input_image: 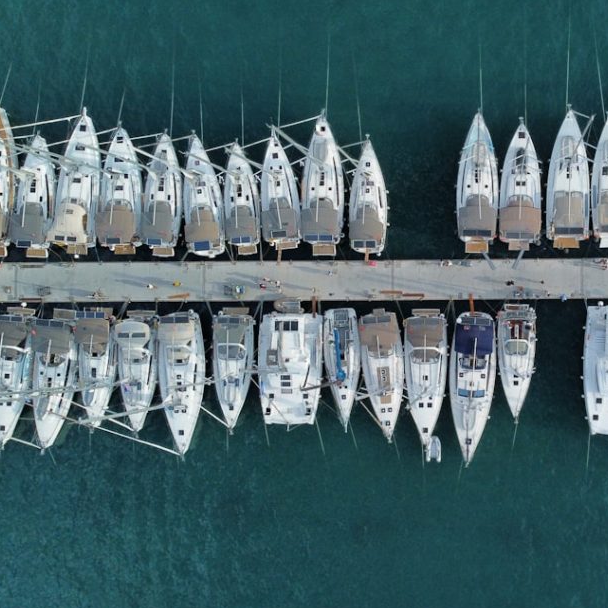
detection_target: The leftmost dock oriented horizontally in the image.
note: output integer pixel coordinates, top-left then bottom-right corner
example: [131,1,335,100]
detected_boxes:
[14,259,203,303]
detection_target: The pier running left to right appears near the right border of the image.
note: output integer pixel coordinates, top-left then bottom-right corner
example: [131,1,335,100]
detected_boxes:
[393,257,584,300]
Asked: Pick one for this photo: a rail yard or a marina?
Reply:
marina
